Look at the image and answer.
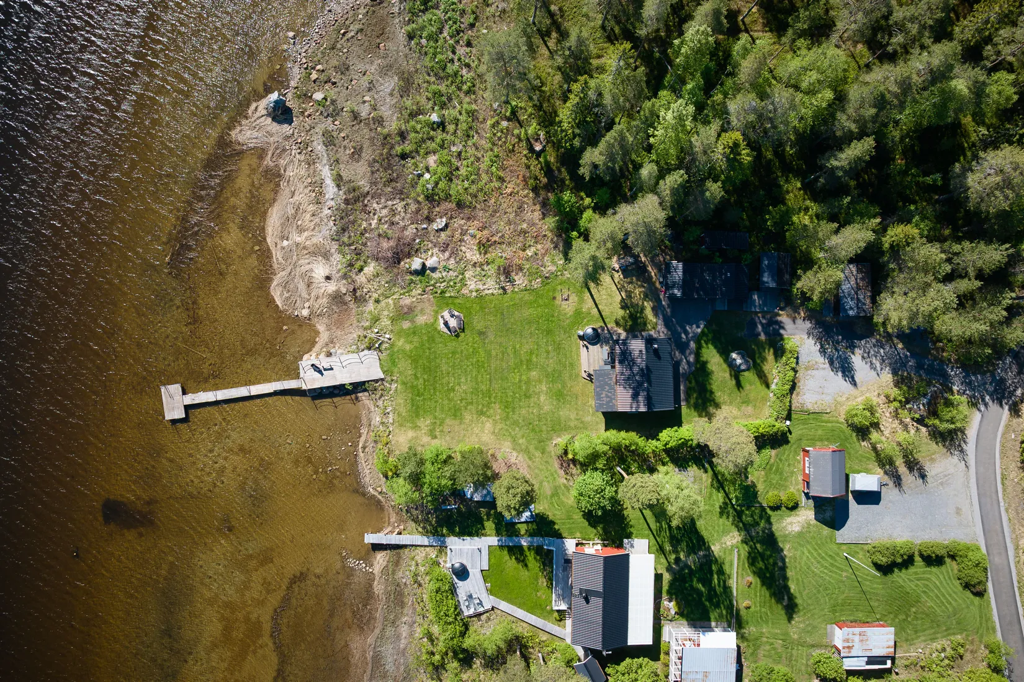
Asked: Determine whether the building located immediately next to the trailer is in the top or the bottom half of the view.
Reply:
bottom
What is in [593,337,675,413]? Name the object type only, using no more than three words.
house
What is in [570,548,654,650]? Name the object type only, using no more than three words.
house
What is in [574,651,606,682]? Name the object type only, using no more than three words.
shed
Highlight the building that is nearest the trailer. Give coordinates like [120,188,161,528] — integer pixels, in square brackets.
[803,450,846,498]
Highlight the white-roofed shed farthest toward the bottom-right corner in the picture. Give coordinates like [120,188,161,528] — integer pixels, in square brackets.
[837,622,895,669]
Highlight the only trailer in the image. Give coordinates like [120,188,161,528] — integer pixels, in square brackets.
[845,471,883,491]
